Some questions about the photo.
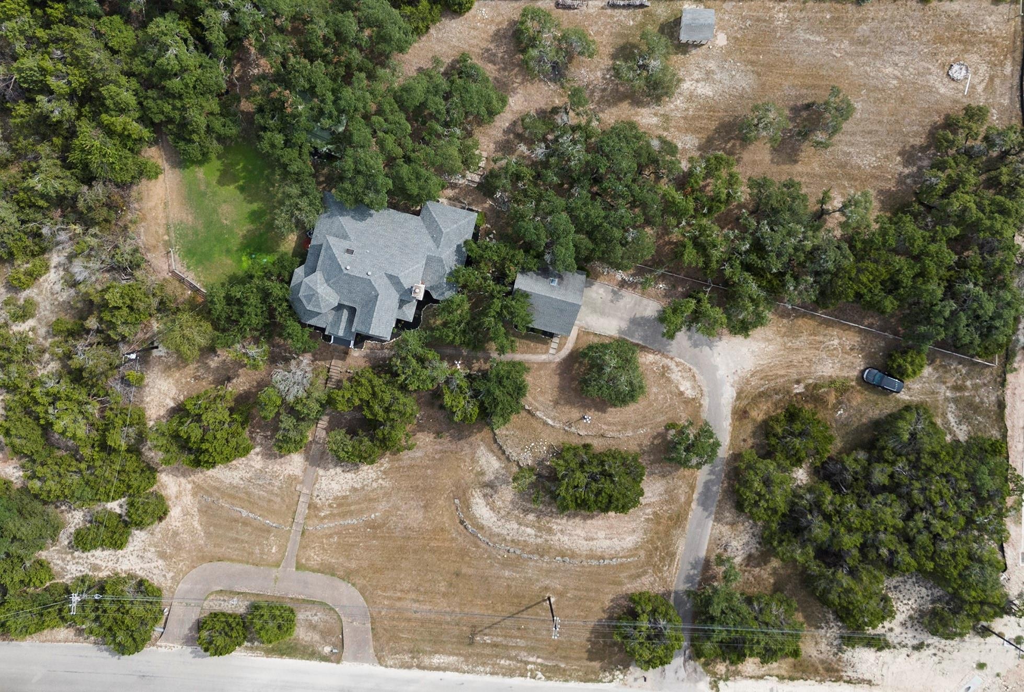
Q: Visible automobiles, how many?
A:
1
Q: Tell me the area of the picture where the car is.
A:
right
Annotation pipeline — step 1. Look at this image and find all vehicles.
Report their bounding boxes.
[864,367,910,394]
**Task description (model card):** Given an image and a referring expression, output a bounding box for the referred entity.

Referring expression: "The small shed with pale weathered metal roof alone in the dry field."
[677,8,715,47]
